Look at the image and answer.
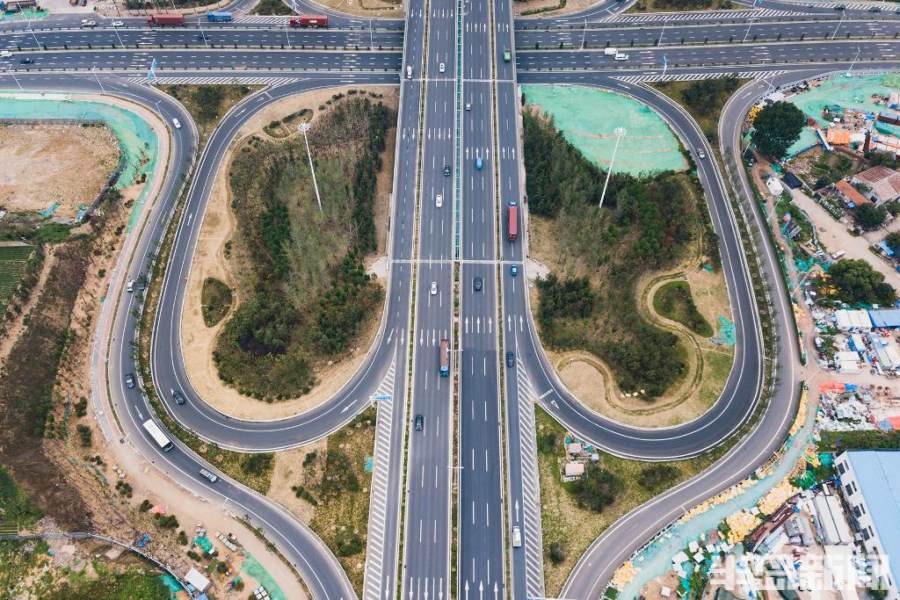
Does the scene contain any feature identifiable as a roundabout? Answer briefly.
No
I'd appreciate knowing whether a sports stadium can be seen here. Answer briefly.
No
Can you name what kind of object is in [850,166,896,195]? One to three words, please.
house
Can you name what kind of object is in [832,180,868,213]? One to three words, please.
house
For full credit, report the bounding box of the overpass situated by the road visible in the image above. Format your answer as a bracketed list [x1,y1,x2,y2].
[364,0,549,287]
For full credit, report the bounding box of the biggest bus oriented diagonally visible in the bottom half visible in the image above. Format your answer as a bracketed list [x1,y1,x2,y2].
[143,416,171,452]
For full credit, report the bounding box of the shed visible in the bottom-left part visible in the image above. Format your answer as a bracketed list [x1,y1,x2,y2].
[185,567,212,592]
